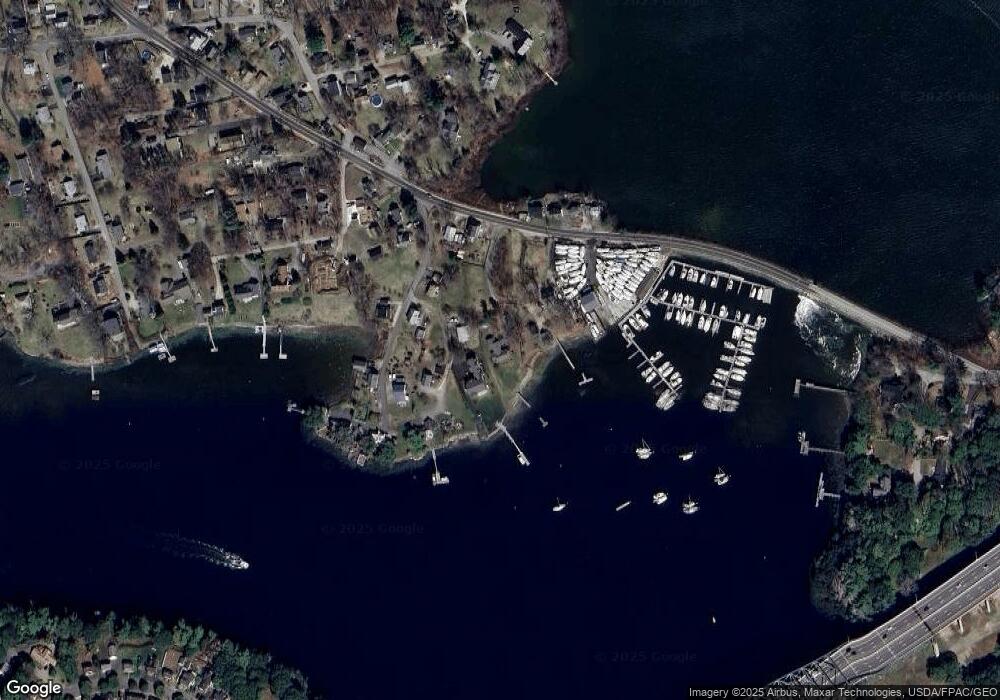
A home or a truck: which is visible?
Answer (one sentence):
I can see a home in this picture.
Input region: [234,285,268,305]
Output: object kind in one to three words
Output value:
house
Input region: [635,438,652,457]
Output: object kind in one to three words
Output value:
boat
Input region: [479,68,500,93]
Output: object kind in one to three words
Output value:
house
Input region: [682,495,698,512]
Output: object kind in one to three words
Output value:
boat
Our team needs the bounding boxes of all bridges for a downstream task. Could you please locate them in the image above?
[732,540,1000,700]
